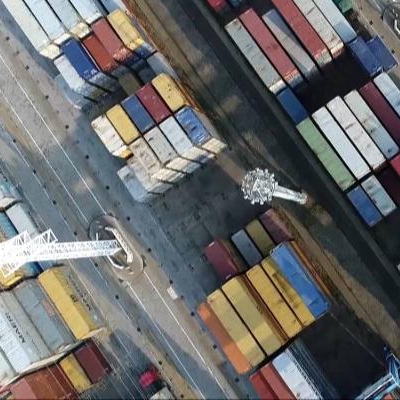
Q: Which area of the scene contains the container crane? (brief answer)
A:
bottom right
